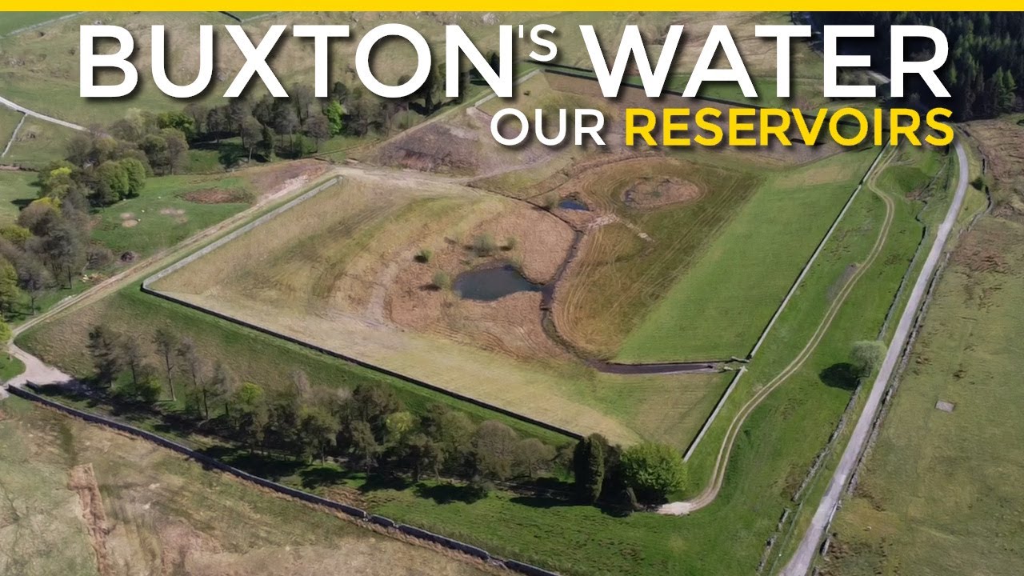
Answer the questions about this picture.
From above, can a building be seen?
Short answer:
No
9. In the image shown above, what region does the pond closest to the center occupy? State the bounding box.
[454,267,547,301]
